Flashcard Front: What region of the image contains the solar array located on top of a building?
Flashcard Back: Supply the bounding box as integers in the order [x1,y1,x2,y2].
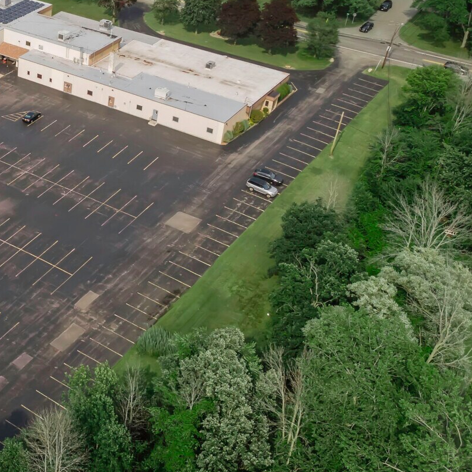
[0,0,44,23]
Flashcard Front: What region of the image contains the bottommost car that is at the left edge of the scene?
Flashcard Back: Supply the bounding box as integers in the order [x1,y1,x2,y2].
[19,107,40,123]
